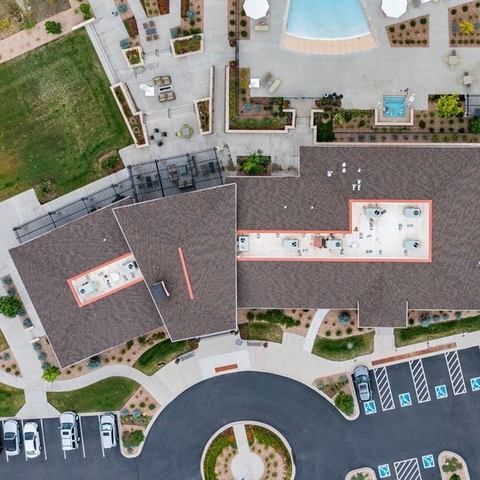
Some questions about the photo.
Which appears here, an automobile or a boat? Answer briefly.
automobile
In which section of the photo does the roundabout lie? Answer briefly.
bottom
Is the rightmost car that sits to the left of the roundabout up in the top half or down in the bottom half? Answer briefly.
bottom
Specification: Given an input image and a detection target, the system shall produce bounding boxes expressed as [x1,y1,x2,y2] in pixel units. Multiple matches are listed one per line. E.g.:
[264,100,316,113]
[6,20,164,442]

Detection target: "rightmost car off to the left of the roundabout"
[98,412,119,449]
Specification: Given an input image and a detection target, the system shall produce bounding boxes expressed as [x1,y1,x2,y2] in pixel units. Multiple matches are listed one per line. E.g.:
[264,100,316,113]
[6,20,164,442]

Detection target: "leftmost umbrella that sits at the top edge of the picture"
[243,0,269,19]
